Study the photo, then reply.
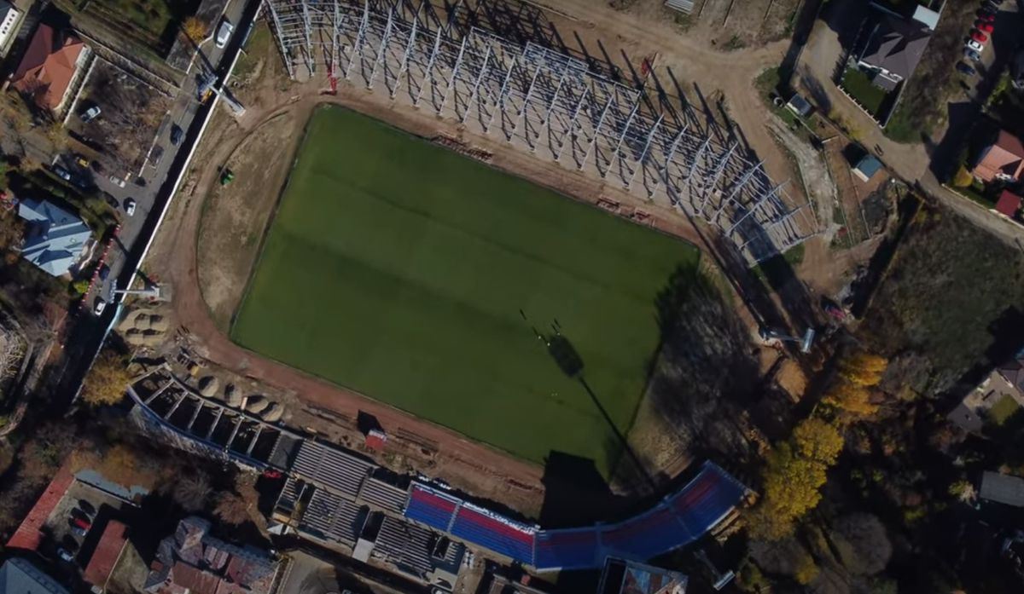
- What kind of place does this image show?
sports ground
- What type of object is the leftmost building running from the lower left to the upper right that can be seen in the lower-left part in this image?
home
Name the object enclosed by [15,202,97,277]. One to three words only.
house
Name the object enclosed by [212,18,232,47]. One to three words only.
vehicle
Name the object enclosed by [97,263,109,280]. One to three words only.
vehicle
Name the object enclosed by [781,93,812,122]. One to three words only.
shed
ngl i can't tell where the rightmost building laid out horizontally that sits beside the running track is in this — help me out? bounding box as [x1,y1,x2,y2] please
[591,551,688,594]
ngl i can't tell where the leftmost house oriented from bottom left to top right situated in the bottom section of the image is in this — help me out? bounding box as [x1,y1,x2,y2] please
[6,461,82,549]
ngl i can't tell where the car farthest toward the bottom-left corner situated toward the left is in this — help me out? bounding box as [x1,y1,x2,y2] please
[56,548,73,561]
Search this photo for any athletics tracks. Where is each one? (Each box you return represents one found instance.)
[174,86,773,513]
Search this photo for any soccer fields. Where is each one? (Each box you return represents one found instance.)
[232,106,699,478]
